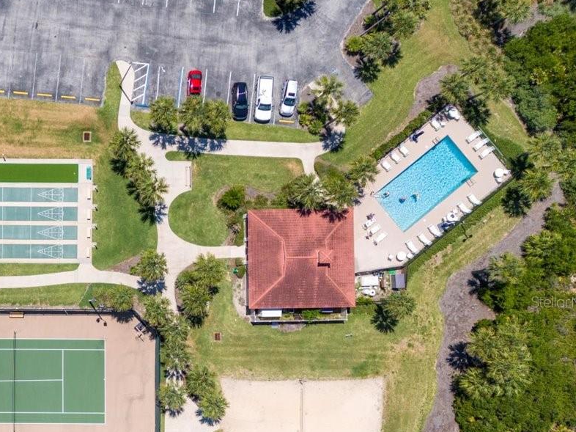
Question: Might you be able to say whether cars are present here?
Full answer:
Yes, the photo shows a car.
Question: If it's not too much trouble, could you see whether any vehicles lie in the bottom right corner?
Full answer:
No, I can find no vehicle in the bottom right corner.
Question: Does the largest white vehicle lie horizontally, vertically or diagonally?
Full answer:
The largest white vehicle is oriented vertically.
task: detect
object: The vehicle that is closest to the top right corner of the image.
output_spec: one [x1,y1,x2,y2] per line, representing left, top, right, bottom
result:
[278,80,298,117]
